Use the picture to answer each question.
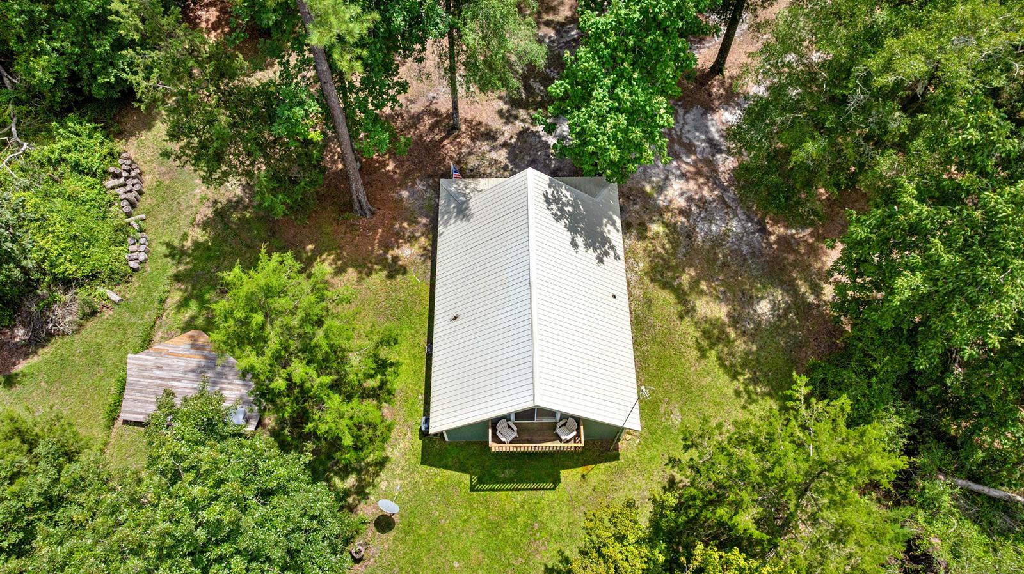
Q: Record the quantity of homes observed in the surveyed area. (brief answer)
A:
1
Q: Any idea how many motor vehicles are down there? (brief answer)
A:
0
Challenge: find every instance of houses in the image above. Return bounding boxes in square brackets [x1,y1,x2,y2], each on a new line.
[427,168,642,457]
